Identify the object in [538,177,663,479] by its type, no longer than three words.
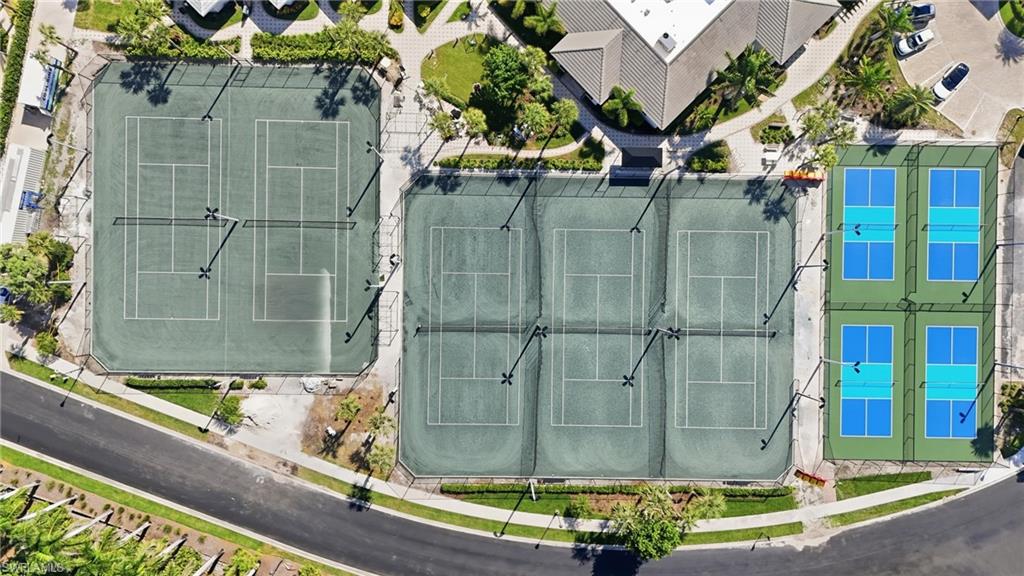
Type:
tennis court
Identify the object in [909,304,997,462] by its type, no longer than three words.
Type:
sports court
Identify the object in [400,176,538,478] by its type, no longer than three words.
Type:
tennis court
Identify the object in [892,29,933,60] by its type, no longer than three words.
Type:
car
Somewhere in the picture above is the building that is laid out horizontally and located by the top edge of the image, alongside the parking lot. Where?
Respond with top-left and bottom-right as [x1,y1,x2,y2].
[533,0,849,130]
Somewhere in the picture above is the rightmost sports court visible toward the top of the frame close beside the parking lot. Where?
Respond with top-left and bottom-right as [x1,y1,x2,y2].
[911,146,998,304]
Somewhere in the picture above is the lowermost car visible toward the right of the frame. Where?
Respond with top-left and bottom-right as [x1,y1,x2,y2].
[931,65,968,101]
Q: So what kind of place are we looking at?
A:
sports ground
